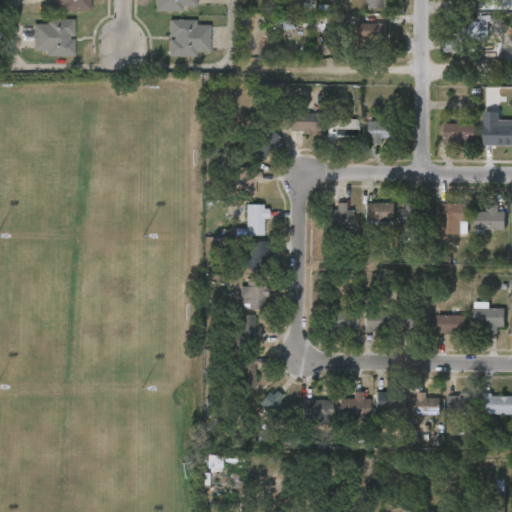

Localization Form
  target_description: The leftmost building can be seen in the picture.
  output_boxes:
[34,20,76,56]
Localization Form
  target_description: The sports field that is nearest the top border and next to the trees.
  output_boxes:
[0,80,200,236]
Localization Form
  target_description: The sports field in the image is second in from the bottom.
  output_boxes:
[0,236,200,388]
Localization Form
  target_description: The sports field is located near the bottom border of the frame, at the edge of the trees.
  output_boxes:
[0,388,200,512]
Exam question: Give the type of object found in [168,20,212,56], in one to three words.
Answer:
house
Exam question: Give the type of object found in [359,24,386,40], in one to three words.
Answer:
house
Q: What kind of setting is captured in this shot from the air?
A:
sports ground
